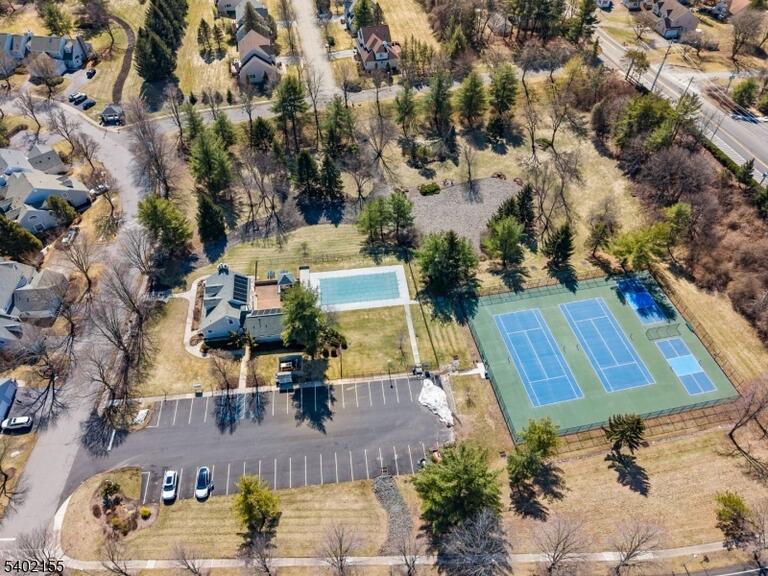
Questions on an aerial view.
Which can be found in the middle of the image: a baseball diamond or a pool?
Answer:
pool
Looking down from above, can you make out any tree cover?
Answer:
Yes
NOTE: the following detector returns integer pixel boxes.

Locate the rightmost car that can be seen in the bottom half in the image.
[195,470,209,497]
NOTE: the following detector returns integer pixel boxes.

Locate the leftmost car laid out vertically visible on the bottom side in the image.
[161,472,176,500]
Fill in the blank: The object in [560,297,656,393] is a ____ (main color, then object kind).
blue tennis court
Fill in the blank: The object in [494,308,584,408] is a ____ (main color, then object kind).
blue tennis court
